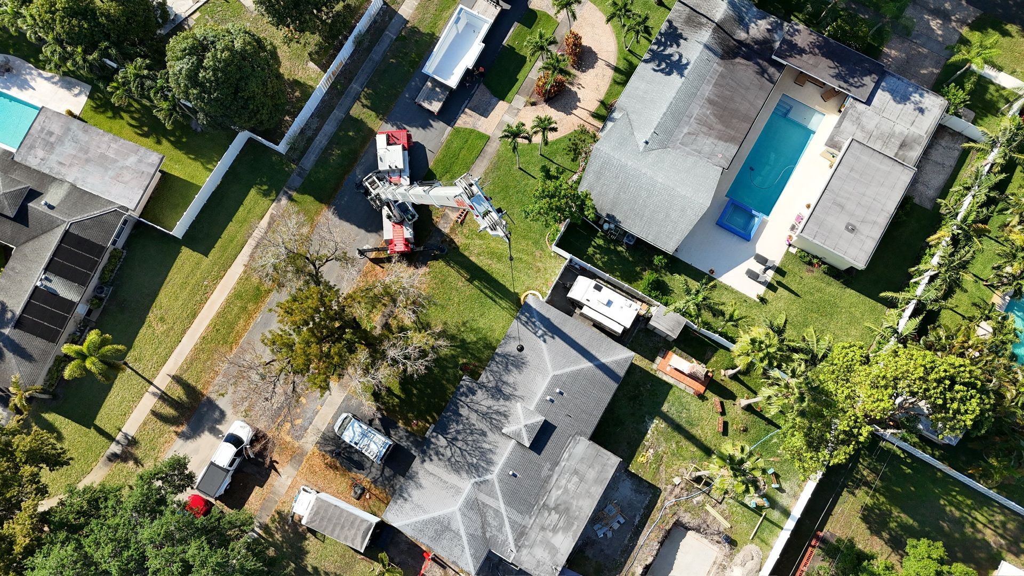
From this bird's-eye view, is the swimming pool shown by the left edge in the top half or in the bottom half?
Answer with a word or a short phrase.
top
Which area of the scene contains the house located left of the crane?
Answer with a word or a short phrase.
left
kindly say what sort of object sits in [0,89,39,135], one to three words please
swimming pool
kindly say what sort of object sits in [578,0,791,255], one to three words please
house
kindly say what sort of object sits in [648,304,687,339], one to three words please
shed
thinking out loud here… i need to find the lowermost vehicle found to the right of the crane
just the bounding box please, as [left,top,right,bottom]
[560,276,640,338]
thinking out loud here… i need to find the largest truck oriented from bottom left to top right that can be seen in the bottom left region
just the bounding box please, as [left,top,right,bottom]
[194,420,254,499]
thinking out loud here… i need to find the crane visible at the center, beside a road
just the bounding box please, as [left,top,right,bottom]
[355,130,523,343]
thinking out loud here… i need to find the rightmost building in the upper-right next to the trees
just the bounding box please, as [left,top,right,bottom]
[772,22,949,270]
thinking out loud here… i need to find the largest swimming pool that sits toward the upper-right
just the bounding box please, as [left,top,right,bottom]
[726,93,825,216]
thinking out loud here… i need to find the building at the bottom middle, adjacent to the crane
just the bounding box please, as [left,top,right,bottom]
[381,293,635,576]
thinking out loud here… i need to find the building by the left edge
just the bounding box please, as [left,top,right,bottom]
[0,106,169,382]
